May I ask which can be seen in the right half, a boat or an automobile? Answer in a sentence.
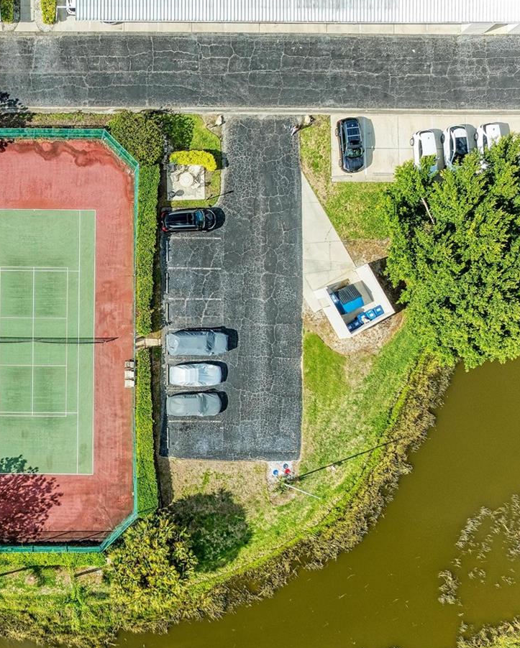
The one visible in the right half is an automobile.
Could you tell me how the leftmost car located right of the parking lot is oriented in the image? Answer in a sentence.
The leftmost car located right of the parking lot runs from top to bottom in the image.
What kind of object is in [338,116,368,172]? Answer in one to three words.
car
